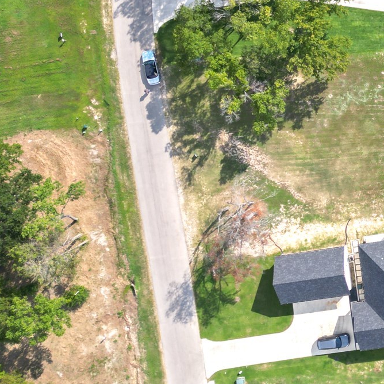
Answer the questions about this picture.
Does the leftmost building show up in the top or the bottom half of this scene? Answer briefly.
bottom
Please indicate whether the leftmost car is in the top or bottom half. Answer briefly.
top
